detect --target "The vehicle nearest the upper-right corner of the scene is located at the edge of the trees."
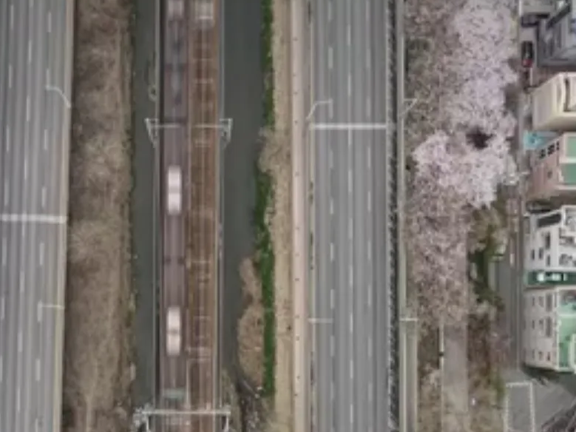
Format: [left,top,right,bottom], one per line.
[519,13,541,26]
